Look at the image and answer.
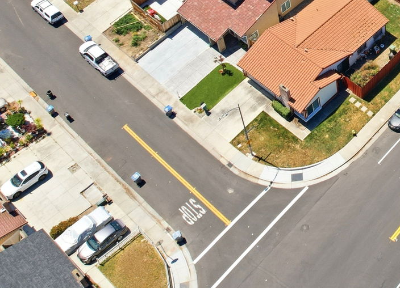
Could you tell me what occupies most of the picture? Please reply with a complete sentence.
The bulk of the photo consists of paved ground.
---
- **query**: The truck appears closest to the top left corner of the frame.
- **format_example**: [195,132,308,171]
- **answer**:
[30,0,66,26]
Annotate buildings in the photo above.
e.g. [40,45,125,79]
[0,228,93,288]
[239,0,389,121]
